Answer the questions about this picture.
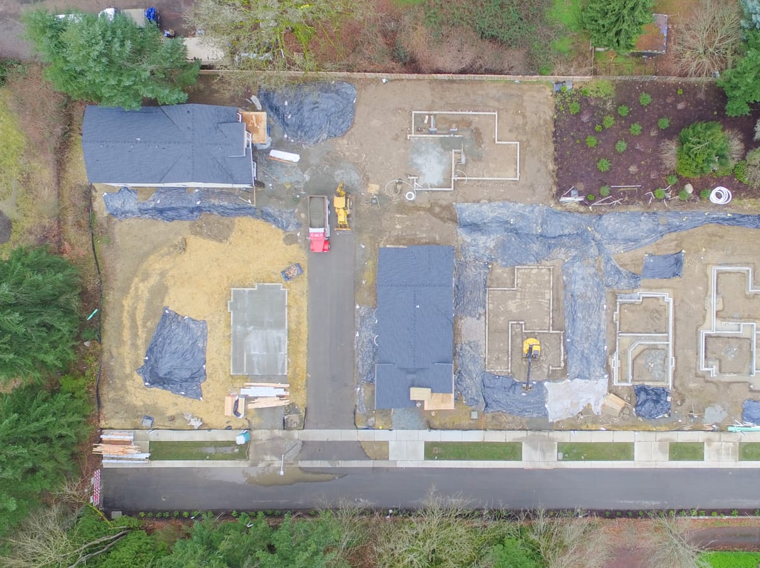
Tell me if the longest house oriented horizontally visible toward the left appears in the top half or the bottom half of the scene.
top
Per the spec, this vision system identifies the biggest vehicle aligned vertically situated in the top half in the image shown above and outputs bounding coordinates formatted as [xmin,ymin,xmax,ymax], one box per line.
[308,195,334,255]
